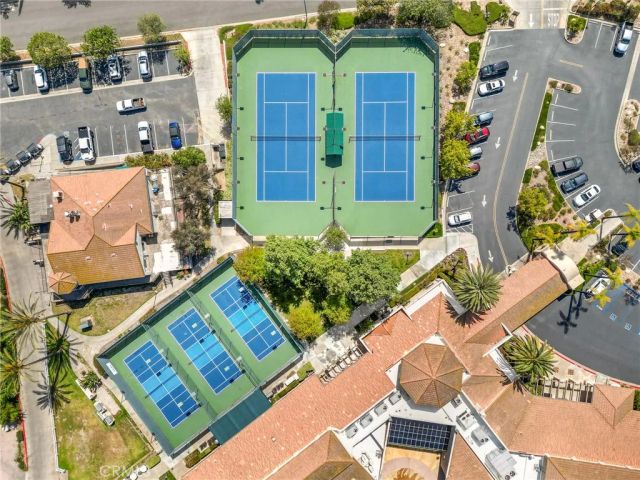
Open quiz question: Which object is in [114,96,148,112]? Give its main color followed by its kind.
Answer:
white vehicle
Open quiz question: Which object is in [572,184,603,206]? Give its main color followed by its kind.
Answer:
white car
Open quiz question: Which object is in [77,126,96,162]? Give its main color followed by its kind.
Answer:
white vehicle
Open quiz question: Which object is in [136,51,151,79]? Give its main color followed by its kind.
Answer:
white car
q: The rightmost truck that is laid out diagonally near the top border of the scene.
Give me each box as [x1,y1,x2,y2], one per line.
[612,20,639,56]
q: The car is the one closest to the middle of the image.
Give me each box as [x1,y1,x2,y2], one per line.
[446,211,473,224]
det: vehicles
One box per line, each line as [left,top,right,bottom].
[2,159,22,171]
[136,51,151,79]
[572,184,603,206]
[446,211,473,224]
[476,78,507,96]
[3,68,21,94]
[32,66,51,94]
[77,56,94,92]
[0,168,11,178]
[114,96,148,112]
[14,150,33,163]
[26,143,44,156]
[54,134,74,162]
[559,172,590,192]
[581,206,608,226]
[472,109,499,128]
[138,121,154,153]
[464,126,493,144]
[608,238,633,258]
[101,412,118,429]
[92,401,109,418]
[549,157,584,174]
[169,121,182,148]
[464,144,485,160]
[77,126,96,162]
[457,160,483,178]
[477,59,512,80]
[106,53,123,83]
[612,20,639,56]
[582,272,614,298]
